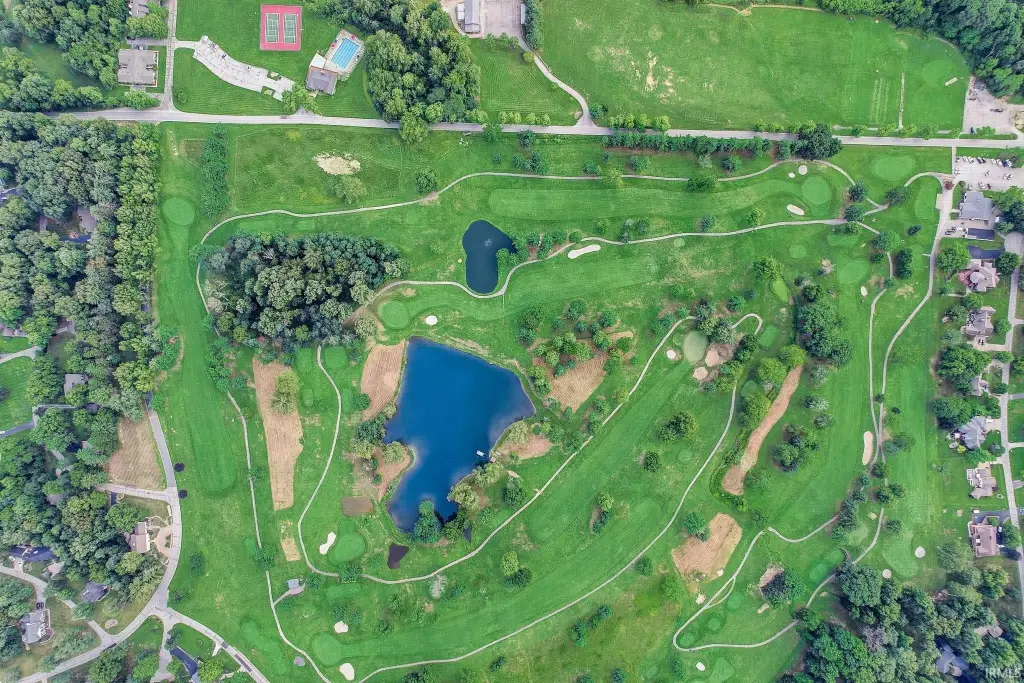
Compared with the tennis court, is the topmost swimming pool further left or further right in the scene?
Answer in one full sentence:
Relative to the tennis court, the topmost swimming pool lies to the right.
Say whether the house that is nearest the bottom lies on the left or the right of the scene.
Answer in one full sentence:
The house that is nearest the bottom sits on the right side.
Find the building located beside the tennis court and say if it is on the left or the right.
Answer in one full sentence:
The building located beside the tennis court is on the left side of the image.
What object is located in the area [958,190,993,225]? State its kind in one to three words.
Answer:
building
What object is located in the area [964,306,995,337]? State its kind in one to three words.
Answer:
house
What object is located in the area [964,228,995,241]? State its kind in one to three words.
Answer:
shed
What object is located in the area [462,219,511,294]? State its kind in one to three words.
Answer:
pond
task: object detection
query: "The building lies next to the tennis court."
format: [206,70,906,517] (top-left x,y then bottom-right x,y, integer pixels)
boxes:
[304,52,338,96]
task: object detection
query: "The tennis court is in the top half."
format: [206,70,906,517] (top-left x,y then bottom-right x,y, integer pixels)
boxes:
[258,2,303,51]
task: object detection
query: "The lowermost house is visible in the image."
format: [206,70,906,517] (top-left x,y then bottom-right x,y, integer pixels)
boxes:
[935,642,969,676]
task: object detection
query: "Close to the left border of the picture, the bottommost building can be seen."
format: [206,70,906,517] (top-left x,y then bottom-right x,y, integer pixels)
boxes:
[19,608,57,642]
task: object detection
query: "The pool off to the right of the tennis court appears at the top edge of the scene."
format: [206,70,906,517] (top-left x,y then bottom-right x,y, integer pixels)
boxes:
[323,28,366,80]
